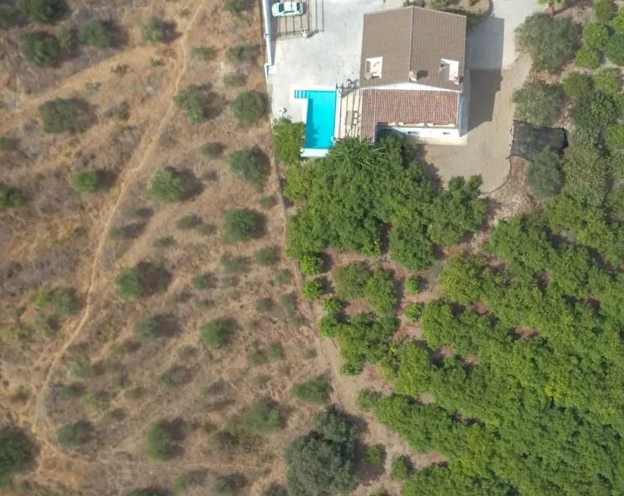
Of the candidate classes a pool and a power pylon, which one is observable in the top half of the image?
pool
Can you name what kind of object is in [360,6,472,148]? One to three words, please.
house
